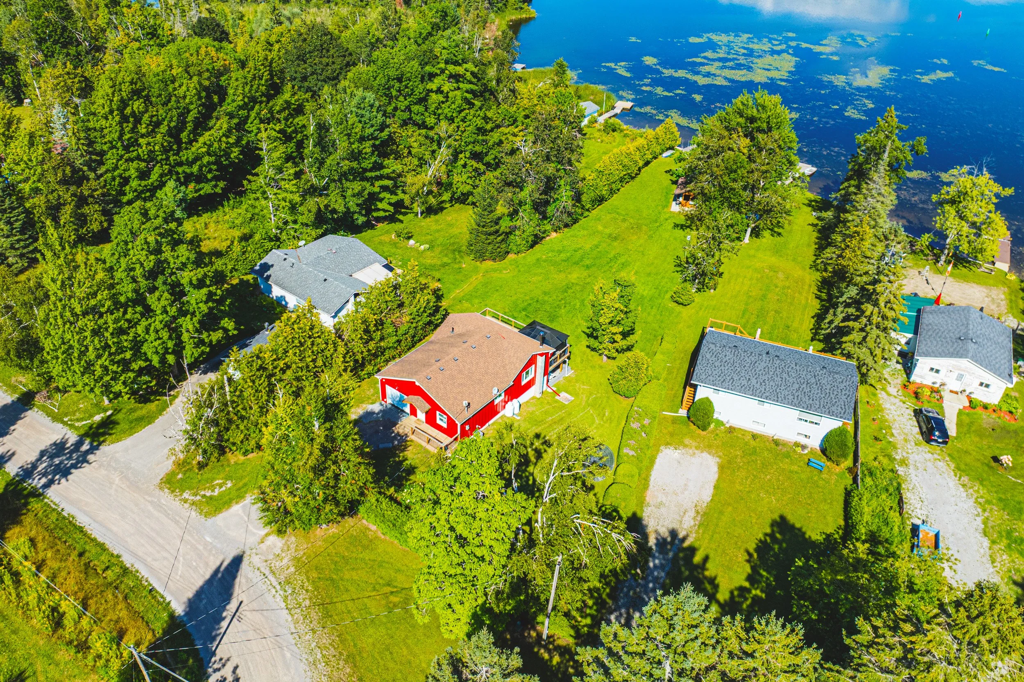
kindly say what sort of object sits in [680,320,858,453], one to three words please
house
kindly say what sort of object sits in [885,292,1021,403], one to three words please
house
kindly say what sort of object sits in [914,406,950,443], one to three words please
car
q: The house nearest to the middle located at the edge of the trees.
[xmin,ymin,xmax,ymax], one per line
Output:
[374,313,579,459]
